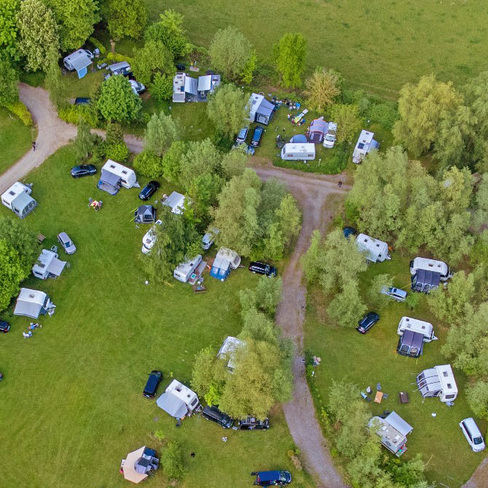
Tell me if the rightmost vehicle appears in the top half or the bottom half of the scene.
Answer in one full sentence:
It is in the bottom half that the rightmost vehicle appears.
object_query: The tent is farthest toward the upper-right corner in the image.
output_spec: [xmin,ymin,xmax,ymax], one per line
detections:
[304,114,327,139]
